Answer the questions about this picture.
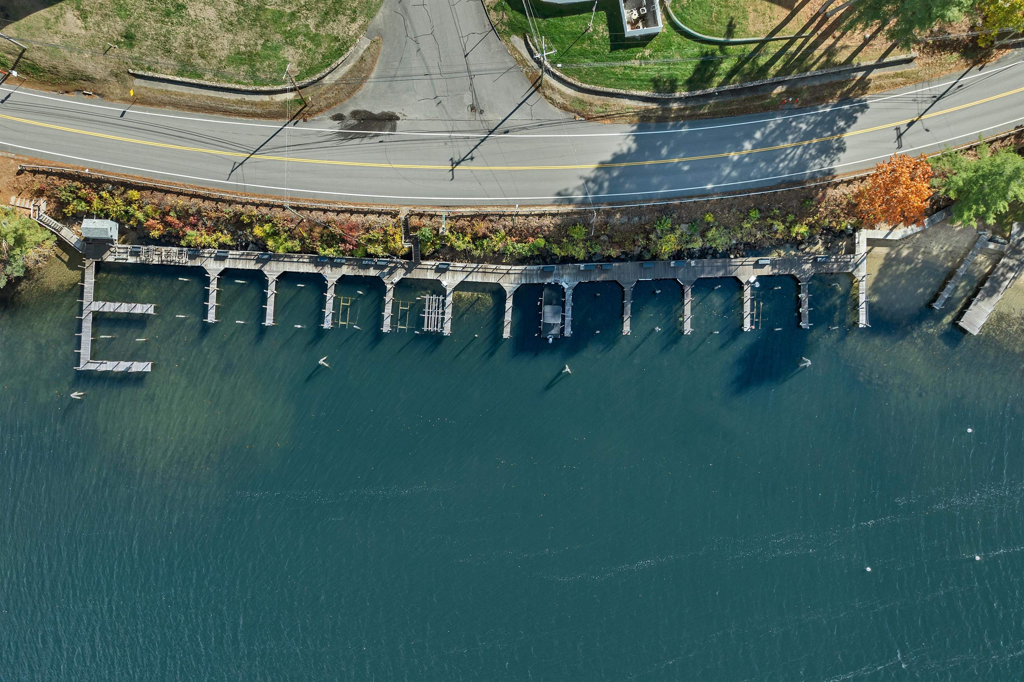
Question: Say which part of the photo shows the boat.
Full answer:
You can find the boat in the center area of the picture.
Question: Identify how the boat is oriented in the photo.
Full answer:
The boat is oriented vertically.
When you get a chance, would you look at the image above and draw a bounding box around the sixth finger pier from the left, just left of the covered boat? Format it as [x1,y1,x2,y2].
[499,283,523,338]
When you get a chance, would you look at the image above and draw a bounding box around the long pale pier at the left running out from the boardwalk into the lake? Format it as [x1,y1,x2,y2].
[72,260,104,369]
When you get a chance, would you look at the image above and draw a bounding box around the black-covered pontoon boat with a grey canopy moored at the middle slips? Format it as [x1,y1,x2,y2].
[541,284,561,344]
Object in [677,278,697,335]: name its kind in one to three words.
pier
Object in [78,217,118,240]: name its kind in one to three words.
shed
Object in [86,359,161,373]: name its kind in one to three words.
pier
